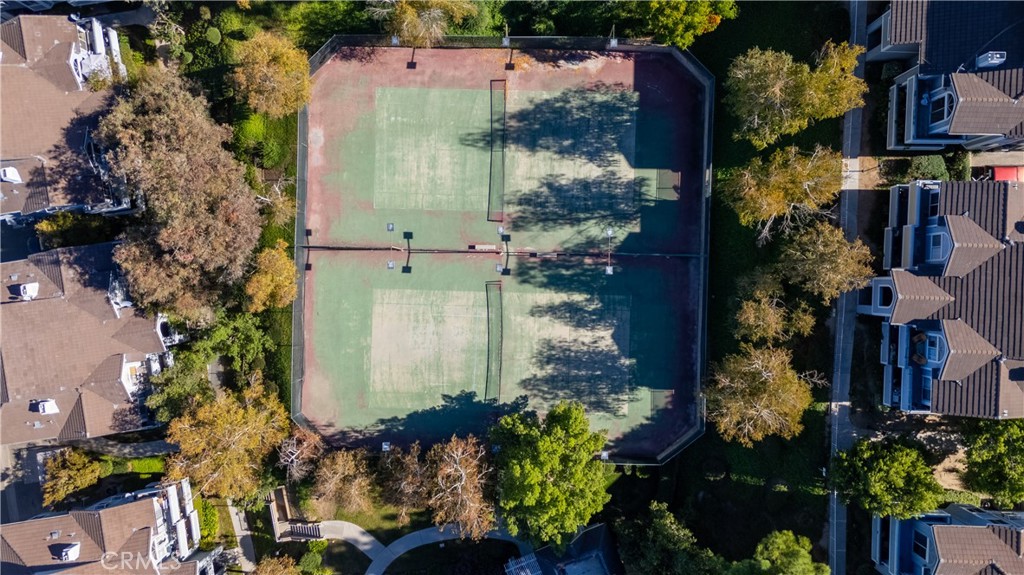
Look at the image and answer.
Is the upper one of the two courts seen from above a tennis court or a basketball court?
tennis court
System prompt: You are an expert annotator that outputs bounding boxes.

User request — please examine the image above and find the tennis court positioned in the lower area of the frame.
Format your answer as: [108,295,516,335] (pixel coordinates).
[301,247,701,458]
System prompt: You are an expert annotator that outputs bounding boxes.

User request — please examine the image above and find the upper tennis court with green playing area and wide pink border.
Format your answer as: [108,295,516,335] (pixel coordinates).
[304,46,705,255]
